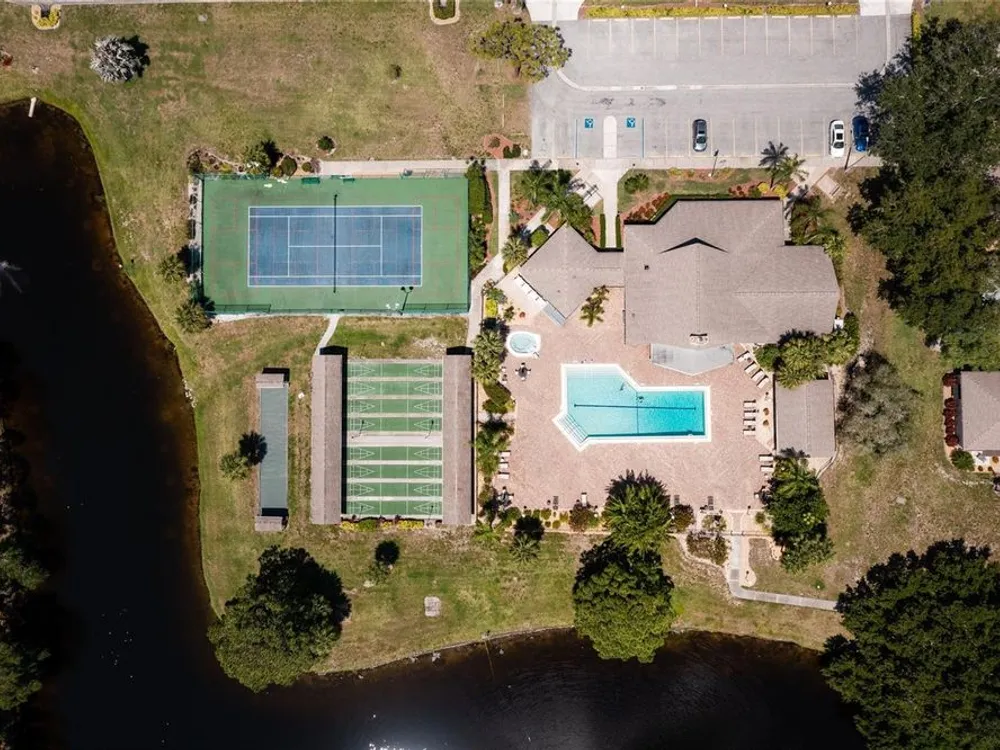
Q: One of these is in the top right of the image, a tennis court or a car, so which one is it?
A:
car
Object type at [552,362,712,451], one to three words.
swimming pool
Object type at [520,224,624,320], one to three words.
building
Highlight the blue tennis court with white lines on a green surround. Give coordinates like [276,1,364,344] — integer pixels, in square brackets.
[203,177,469,313]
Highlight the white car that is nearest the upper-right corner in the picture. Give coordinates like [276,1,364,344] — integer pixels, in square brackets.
[830,119,849,155]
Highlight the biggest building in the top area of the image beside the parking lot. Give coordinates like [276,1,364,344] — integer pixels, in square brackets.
[623,199,839,350]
